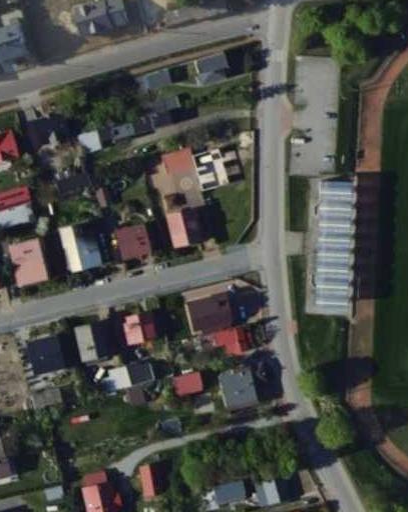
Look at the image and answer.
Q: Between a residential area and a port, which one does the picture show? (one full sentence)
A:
What you see here is a residential area.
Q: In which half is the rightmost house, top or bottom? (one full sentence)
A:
The rightmost house sits in the bottom half of the picture.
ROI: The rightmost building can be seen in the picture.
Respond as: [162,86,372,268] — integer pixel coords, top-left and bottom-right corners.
[256,479,282,507]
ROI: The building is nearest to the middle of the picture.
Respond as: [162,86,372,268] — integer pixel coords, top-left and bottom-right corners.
[166,208,207,249]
